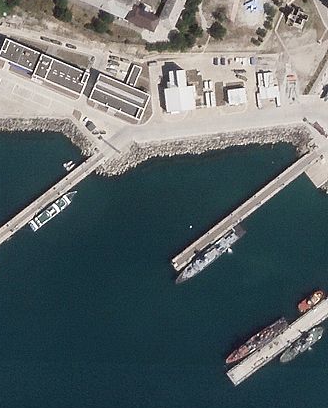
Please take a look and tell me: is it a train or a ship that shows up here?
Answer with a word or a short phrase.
ship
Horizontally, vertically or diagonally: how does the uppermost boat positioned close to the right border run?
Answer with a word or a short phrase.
diagonally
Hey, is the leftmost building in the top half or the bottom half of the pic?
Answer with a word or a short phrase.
top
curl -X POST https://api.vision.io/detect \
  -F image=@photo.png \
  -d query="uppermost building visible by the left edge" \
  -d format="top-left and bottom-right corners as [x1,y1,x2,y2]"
[0,37,41,73]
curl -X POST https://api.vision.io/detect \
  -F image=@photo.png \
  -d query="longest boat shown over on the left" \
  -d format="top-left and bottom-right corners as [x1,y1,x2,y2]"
[29,191,77,231]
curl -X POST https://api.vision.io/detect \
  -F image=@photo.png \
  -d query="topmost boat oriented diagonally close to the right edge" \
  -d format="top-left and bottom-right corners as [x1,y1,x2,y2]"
[298,292,325,313]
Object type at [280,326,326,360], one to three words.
ship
